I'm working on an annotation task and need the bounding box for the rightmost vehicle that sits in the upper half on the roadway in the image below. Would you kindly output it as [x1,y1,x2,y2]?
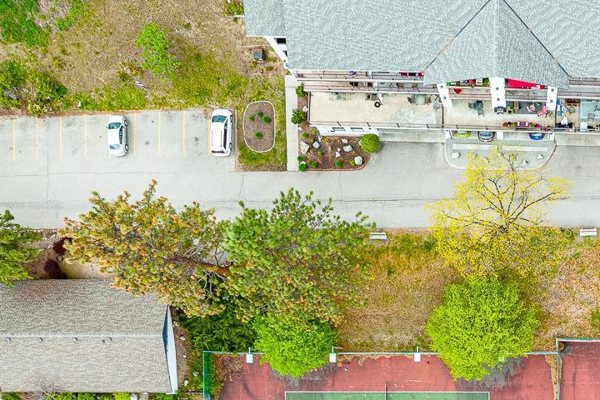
[209,109,233,155]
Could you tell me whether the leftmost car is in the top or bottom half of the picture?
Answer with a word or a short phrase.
top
